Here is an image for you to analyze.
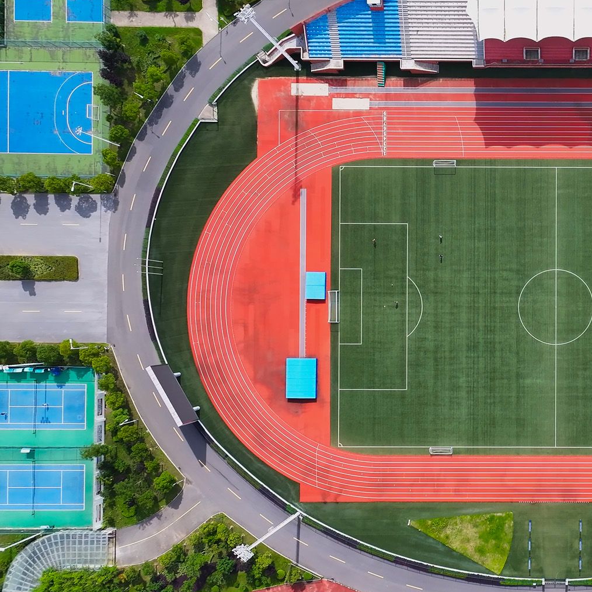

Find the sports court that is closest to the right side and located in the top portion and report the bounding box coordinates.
[58,0,109,47]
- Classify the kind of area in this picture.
sports ground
